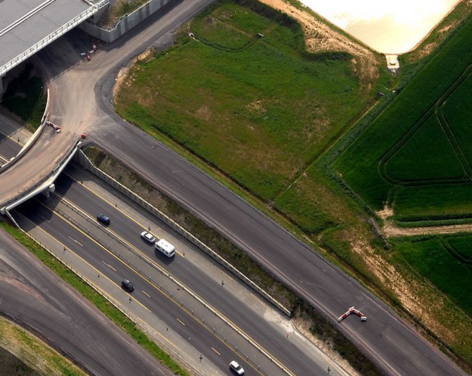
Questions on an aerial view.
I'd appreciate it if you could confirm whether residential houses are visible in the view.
No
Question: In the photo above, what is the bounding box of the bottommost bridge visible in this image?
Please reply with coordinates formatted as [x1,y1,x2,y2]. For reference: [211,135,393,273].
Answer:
[0,117,85,225]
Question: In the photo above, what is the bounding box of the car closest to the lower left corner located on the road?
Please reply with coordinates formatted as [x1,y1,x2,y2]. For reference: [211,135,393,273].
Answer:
[119,277,136,292]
